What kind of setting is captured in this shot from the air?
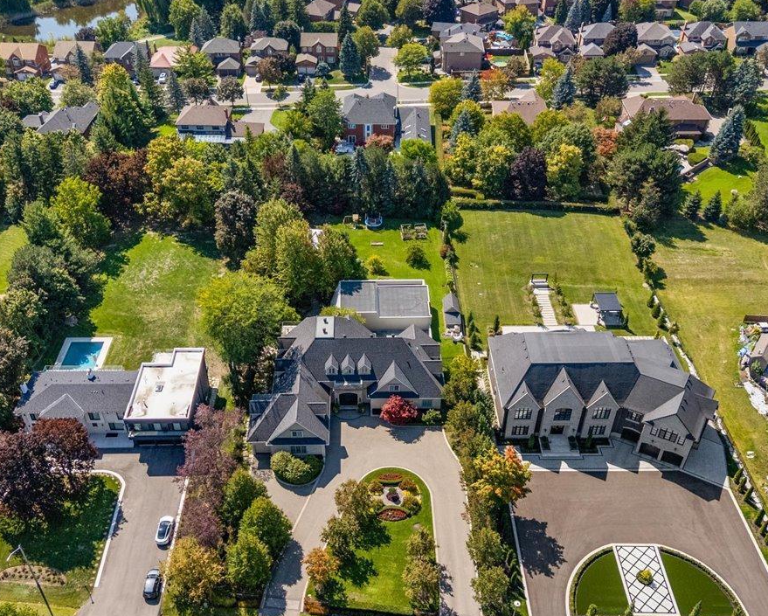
residential area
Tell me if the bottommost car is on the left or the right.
left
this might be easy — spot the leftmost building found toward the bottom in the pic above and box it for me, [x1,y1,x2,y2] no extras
[13,344,209,445]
